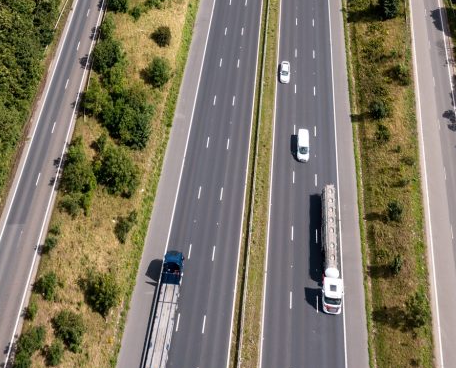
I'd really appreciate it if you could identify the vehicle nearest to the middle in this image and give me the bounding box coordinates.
[296,130,308,162]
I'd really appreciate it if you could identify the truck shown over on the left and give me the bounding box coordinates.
[146,253,186,368]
